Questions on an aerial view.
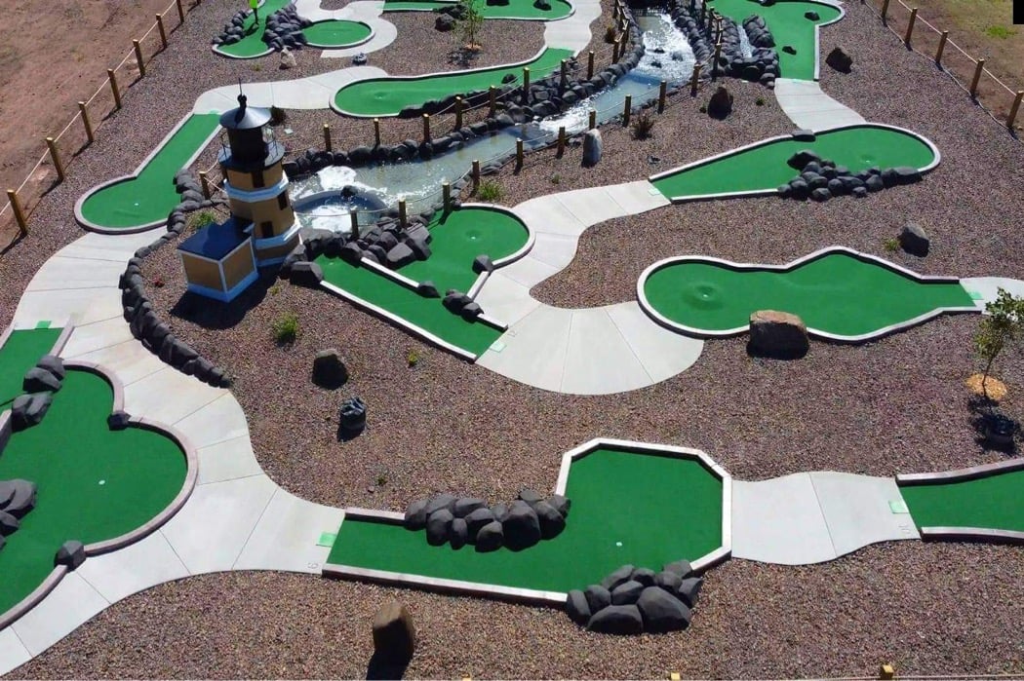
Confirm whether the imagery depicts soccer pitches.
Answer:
No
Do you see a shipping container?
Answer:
No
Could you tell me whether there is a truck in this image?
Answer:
No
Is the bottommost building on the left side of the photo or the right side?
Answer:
left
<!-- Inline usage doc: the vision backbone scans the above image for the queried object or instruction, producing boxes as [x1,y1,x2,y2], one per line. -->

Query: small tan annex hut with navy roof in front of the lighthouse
[177,225,258,302]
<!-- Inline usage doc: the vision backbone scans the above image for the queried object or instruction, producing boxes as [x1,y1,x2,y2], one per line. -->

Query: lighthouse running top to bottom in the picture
[218,78,301,266]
